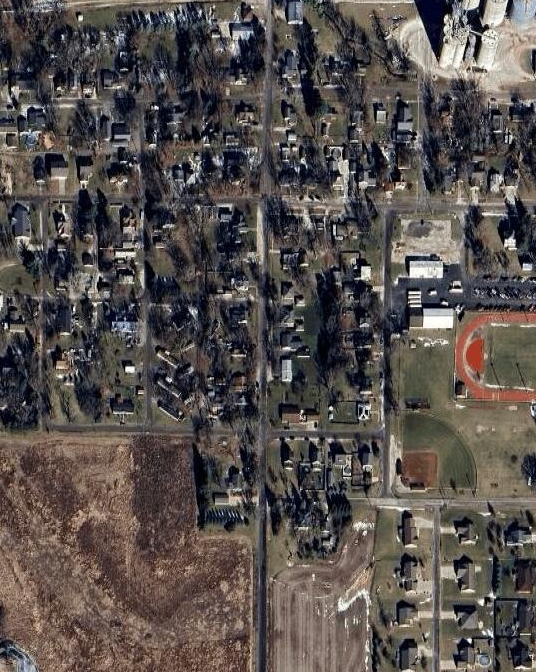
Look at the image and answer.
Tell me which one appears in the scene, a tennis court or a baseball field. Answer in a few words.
baseball field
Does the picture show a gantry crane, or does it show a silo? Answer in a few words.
silo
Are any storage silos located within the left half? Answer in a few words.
No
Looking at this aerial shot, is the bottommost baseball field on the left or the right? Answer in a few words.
right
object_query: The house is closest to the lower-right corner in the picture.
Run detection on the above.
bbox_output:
[510,643,532,670]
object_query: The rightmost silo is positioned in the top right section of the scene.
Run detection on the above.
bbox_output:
[510,0,536,24]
